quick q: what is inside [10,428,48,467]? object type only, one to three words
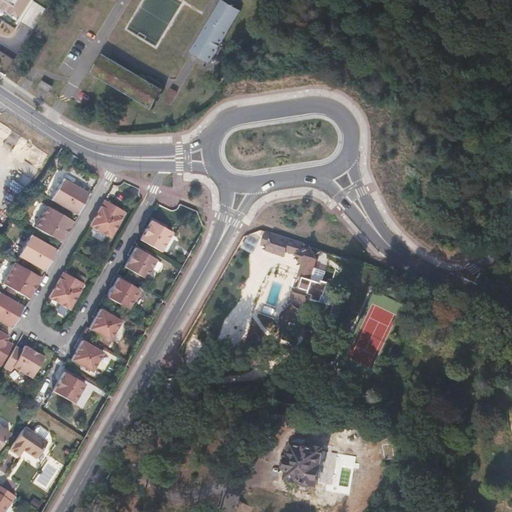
house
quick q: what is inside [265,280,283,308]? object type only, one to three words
swimming pool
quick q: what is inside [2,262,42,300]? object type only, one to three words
house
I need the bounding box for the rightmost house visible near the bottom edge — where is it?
[278,442,325,488]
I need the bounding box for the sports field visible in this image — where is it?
[128,0,184,47]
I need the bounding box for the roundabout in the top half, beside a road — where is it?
[186,96,366,219]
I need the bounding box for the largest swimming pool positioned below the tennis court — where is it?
[326,453,359,496]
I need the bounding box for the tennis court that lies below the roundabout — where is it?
[348,294,402,370]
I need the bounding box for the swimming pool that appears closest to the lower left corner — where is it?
[32,456,64,492]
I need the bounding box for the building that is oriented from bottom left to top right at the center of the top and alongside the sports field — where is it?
[188,0,242,59]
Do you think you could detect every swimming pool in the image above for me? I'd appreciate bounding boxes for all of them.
[32,456,64,492]
[265,280,283,308]
[326,453,359,496]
